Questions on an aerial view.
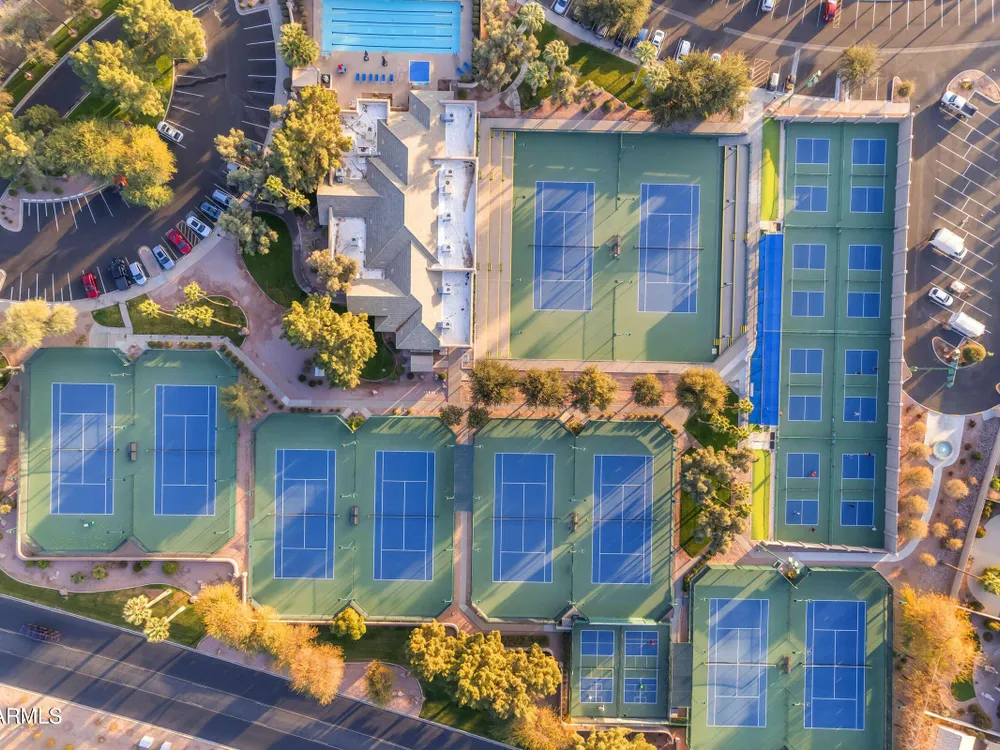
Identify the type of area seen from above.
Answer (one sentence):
It's a sports ground.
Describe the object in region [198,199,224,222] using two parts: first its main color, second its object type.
blue car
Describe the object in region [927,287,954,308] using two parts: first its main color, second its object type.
white car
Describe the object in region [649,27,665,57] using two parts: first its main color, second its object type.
white car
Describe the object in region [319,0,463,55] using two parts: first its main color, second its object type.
blue swimming pool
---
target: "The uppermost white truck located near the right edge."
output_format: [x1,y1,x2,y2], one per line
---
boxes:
[940,93,975,116]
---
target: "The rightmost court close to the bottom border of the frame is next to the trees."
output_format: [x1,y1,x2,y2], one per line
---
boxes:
[789,568,886,750]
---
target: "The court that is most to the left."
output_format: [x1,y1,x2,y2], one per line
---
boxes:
[27,349,133,553]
